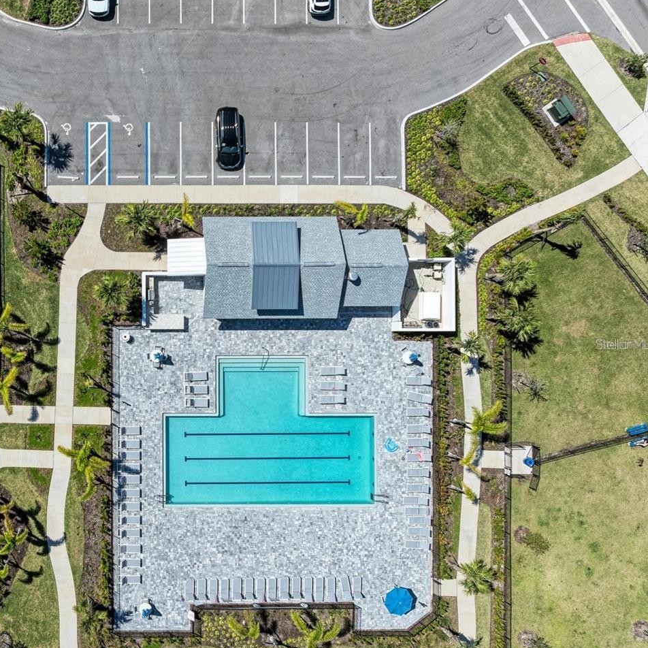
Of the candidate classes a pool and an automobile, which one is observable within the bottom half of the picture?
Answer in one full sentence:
It is a pool that can be seen within the bottom half of the picture.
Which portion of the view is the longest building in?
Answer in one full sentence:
You can find the longest building in the center area of the picture.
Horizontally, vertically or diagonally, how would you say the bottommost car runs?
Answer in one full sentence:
I'd say the bottommost car is aligned vertically in the picture.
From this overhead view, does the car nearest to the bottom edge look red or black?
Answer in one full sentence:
From above, the car nearest to the bottom edge appears black.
